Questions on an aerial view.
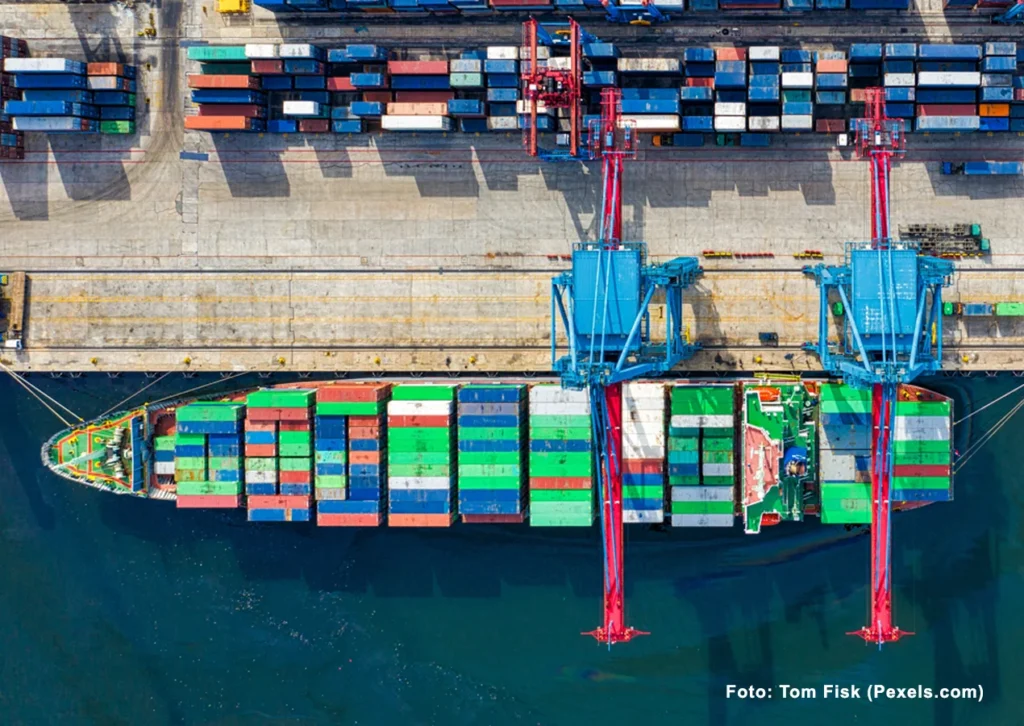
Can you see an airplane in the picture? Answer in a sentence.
No, no airplane is visible in the scene.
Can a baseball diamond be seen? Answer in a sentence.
No, this view has no baseball diamond in it.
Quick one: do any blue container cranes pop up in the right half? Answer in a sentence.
Yes, I can see a blue container crane in the right half.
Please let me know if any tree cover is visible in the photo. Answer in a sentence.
No, no tree cover is visible.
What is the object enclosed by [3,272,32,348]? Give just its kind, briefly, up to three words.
truck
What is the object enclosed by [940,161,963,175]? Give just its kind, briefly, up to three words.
vehicle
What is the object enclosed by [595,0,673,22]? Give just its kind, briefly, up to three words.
crane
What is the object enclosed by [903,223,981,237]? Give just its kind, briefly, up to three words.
vehicle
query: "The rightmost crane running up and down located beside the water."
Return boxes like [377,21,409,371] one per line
[802,89,952,651]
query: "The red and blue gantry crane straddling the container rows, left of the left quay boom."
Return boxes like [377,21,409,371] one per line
[523,18,609,159]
